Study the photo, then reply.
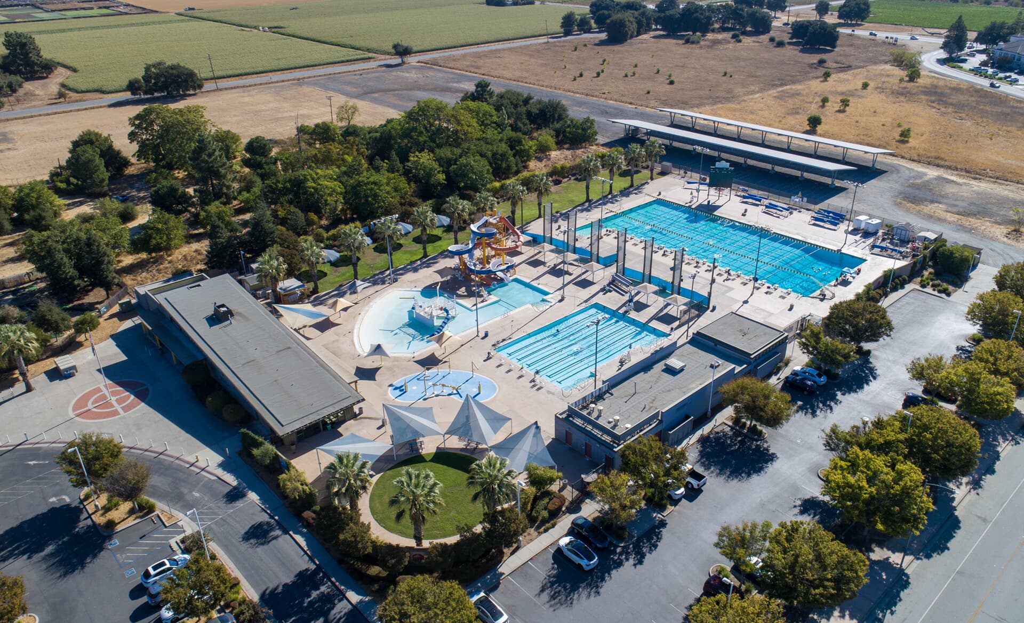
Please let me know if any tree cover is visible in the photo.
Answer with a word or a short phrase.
Yes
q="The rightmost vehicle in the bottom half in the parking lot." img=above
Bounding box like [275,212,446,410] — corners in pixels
[904,388,941,409]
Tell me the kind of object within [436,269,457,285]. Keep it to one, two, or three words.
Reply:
umbrella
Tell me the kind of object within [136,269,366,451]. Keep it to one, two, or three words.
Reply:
building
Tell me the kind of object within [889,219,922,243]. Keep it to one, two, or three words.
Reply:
shed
